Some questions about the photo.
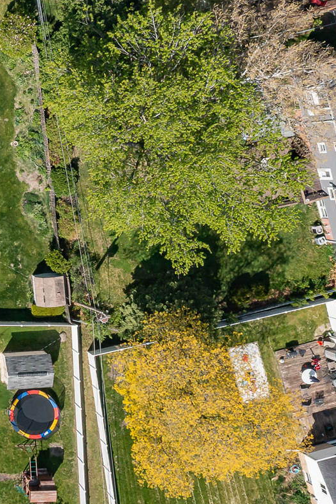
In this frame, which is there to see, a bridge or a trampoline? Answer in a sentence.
Looking from above, you can make out a trampoline.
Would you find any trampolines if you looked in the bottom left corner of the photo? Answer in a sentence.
Yes, a trampoline is visible in the bottom left corner of the photo.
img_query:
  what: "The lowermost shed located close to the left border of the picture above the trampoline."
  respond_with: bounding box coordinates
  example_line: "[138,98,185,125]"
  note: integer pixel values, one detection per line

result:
[2,352,54,391]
